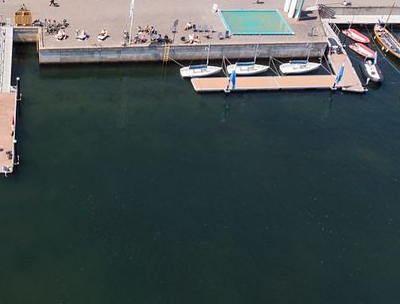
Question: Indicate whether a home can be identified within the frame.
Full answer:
No, there isn't any home down there.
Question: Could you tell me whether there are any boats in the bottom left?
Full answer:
No, no boat can be made out in the bottom left.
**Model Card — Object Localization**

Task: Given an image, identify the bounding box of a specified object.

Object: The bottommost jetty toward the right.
[192,77,332,94]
